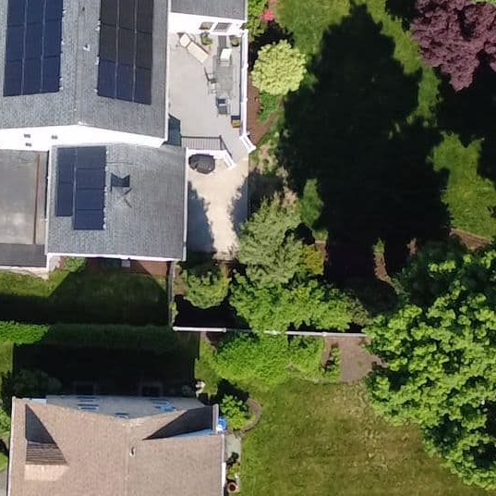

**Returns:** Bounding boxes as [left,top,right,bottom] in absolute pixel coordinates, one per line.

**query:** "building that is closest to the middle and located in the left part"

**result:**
[44,138,188,261]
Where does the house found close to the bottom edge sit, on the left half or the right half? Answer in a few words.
left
